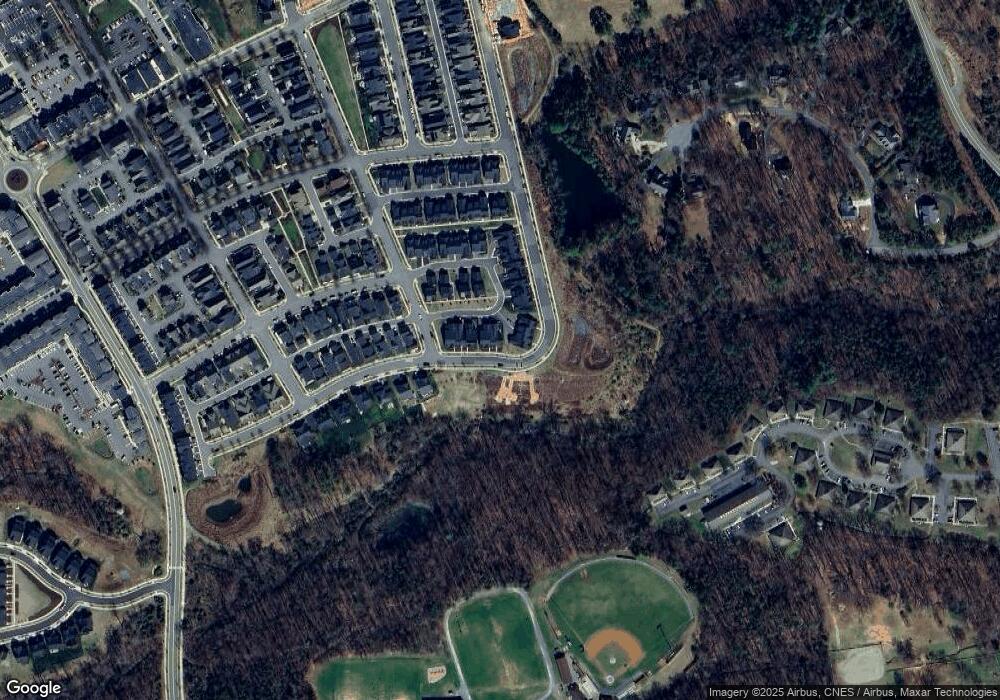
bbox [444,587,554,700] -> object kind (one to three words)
sports field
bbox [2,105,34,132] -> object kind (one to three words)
building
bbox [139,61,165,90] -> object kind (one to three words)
building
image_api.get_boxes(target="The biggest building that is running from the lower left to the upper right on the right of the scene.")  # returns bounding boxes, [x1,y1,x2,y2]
[706,482,771,534]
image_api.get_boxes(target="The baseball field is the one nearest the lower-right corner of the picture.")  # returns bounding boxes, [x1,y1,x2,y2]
[547,557,695,694]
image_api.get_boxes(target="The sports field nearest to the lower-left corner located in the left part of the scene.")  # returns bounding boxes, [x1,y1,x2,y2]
[312,655,423,700]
